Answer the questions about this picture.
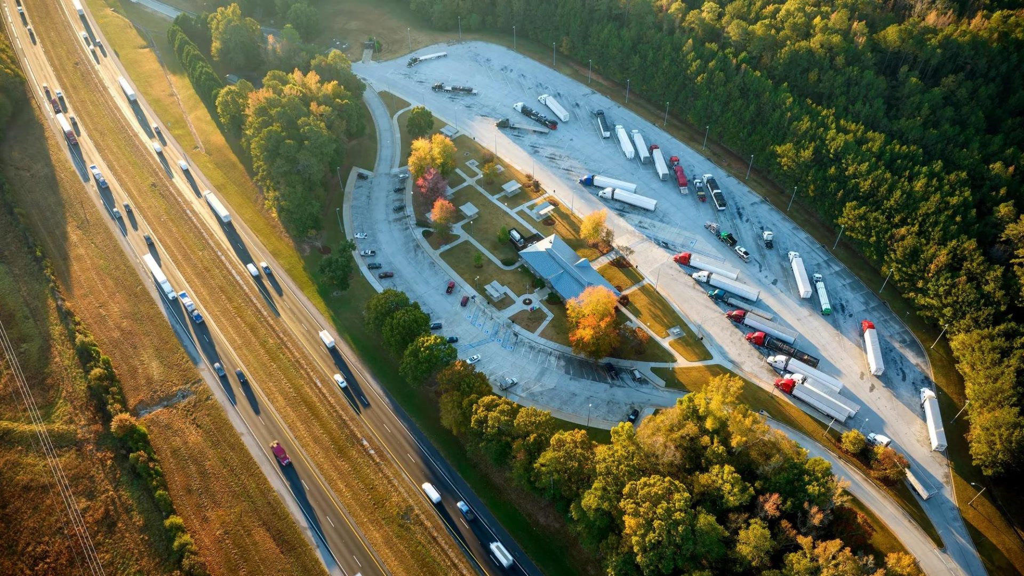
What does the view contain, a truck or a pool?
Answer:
truck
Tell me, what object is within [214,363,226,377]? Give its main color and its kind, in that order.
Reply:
blue vehicle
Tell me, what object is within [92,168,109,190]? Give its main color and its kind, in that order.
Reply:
white vehicle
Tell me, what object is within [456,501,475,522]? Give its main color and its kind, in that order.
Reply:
blue vehicle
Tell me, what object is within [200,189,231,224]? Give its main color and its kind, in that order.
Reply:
white truck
